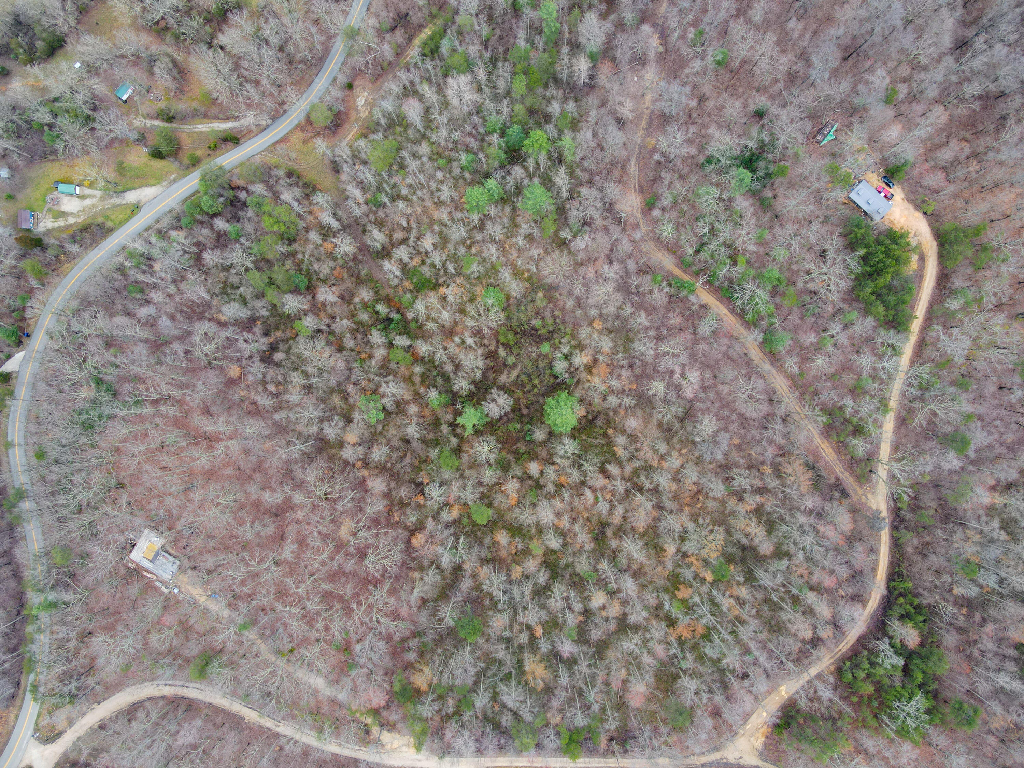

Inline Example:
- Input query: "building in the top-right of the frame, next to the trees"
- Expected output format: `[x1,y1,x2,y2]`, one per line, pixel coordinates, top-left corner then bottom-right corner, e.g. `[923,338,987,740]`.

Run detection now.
[840,180,891,228]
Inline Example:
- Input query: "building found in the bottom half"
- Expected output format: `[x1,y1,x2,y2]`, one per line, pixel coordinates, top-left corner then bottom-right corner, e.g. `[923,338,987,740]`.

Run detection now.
[129,531,180,581]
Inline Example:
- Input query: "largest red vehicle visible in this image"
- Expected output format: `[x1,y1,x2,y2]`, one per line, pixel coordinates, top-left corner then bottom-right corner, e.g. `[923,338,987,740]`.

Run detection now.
[875,185,895,200]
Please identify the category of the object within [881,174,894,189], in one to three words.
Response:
vehicle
